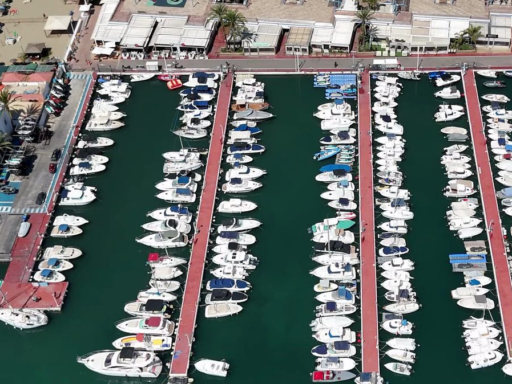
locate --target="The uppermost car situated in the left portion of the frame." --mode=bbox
[50,145,63,162]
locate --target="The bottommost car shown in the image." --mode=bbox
[33,189,49,208]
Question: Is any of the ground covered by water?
Yes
